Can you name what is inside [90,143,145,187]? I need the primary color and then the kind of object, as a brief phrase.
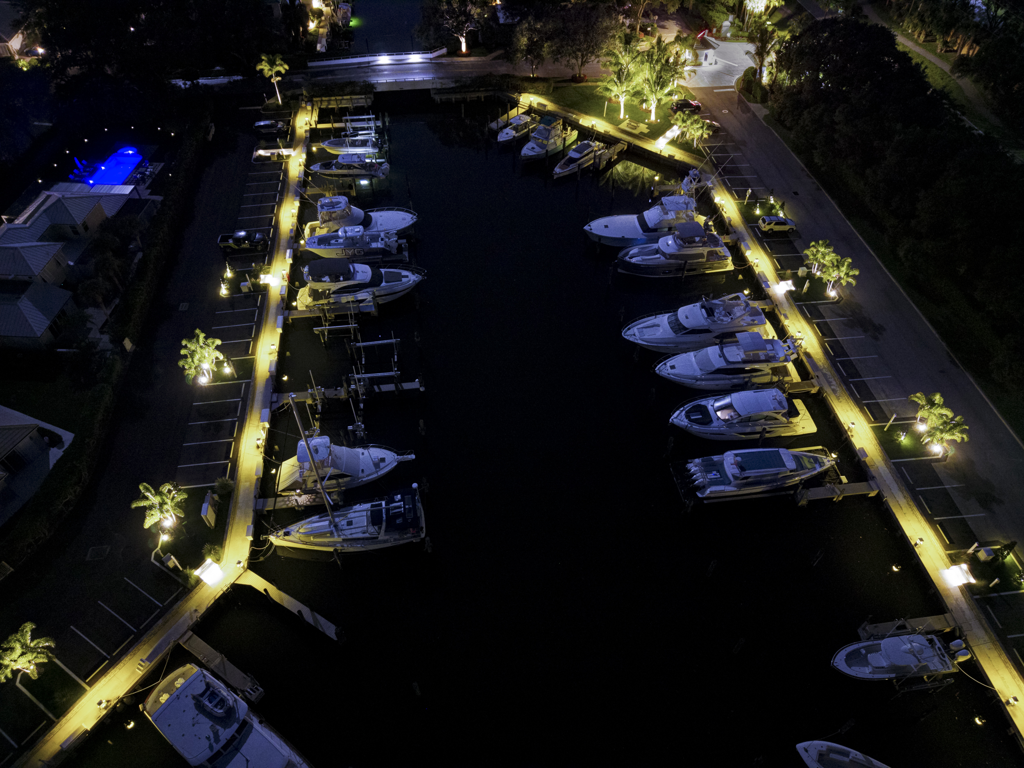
blue swimming pool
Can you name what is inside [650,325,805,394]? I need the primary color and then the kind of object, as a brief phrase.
blue boat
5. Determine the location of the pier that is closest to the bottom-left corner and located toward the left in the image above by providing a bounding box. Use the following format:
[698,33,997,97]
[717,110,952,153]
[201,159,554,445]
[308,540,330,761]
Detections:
[179,629,258,696]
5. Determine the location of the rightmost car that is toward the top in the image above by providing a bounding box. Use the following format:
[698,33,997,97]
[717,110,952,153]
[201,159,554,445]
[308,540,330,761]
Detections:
[760,215,798,233]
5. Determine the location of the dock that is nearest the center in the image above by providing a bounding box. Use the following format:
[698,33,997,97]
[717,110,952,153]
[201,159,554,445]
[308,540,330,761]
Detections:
[374,380,420,399]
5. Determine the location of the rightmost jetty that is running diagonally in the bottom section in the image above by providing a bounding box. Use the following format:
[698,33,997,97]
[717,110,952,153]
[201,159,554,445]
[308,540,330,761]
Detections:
[236,570,344,647]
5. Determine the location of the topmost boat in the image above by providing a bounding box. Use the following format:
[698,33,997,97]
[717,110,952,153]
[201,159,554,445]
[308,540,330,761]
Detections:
[338,3,352,30]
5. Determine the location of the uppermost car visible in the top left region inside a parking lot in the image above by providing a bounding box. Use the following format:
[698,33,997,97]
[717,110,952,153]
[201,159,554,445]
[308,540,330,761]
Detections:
[254,120,285,136]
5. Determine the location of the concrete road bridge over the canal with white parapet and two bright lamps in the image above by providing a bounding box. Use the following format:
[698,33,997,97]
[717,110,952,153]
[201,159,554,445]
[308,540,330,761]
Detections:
[305,42,448,90]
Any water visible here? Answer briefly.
Yes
